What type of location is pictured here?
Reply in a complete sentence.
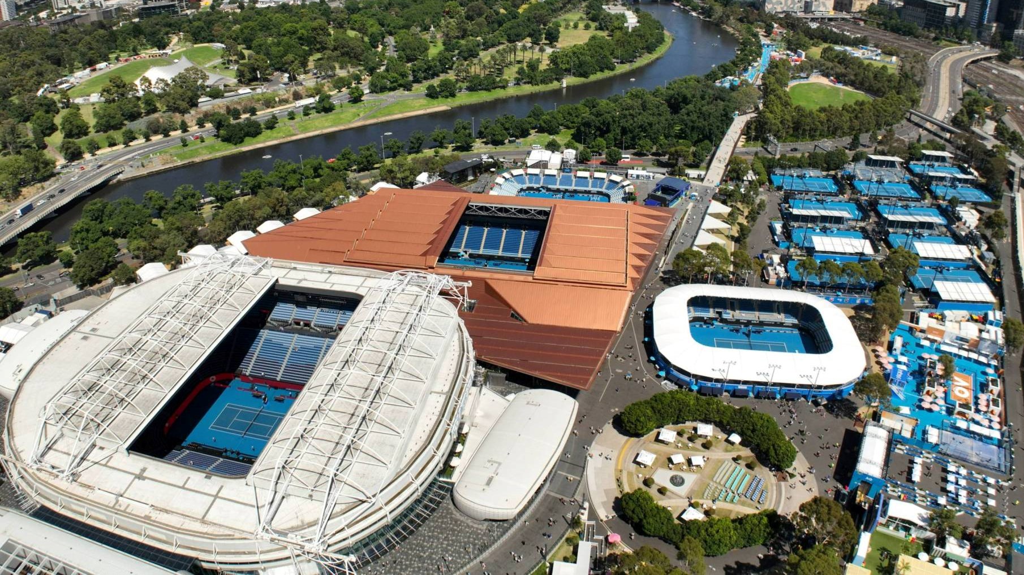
This image shows a sports ground.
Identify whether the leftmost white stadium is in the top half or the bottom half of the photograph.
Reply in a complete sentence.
It is in the bottom half that the leftmost white stadium appears.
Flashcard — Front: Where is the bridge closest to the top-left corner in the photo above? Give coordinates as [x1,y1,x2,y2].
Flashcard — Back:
[0,154,149,229]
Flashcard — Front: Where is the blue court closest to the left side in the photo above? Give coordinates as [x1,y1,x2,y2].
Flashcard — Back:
[167,382,308,459]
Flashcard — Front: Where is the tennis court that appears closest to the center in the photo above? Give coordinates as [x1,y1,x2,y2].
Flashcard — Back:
[443,257,535,272]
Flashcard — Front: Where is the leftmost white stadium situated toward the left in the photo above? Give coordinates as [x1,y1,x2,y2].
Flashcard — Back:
[0,249,481,575]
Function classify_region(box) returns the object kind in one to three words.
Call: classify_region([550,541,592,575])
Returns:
building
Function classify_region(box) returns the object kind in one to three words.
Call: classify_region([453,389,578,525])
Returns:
building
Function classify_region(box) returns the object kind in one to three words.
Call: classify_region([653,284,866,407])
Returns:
stadium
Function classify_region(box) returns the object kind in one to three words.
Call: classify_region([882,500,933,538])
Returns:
tent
